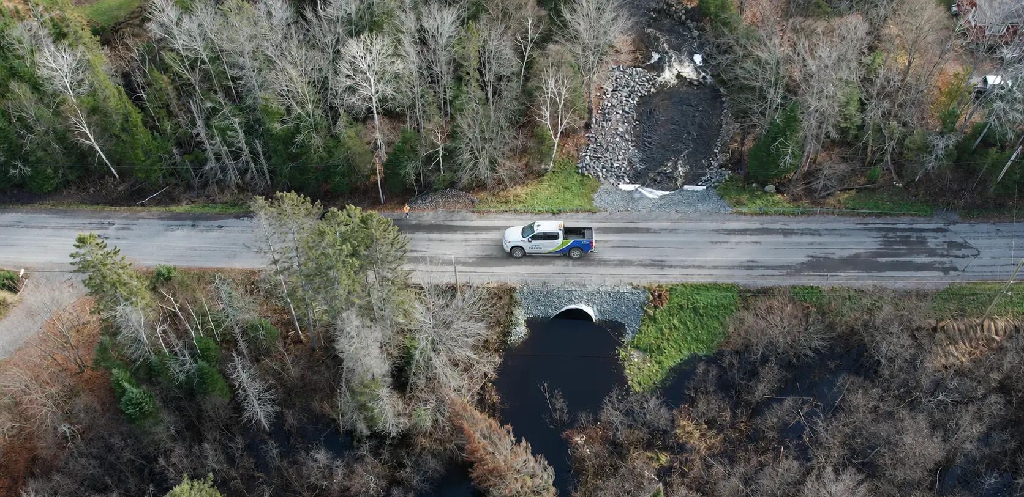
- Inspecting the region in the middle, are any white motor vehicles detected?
Yes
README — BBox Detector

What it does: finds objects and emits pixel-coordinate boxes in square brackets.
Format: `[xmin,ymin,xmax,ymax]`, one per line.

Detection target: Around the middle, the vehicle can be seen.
[500,219,596,258]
